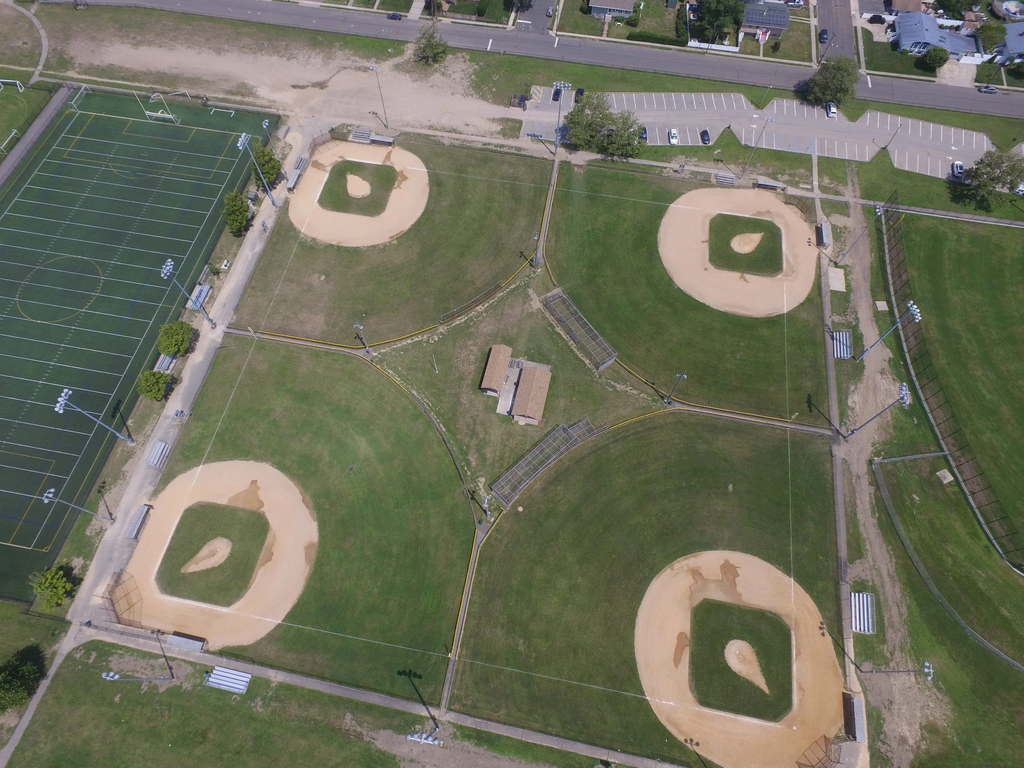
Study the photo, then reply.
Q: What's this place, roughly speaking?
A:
sports ground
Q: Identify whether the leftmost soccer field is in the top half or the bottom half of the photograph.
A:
top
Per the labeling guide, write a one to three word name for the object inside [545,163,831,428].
baseball field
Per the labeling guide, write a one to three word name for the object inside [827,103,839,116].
vehicle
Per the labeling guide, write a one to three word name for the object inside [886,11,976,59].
house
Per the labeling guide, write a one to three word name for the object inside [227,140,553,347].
baseball field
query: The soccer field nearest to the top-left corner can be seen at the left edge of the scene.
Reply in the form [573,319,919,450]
[0,85,51,158]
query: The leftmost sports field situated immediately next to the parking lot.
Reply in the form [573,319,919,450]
[0,93,279,602]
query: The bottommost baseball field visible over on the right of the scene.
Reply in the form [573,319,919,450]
[448,409,851,768]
